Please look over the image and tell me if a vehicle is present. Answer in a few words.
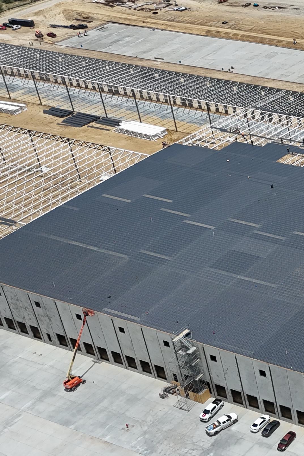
Yes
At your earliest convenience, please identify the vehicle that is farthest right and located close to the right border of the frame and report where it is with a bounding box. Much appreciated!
[275,428,296,449]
